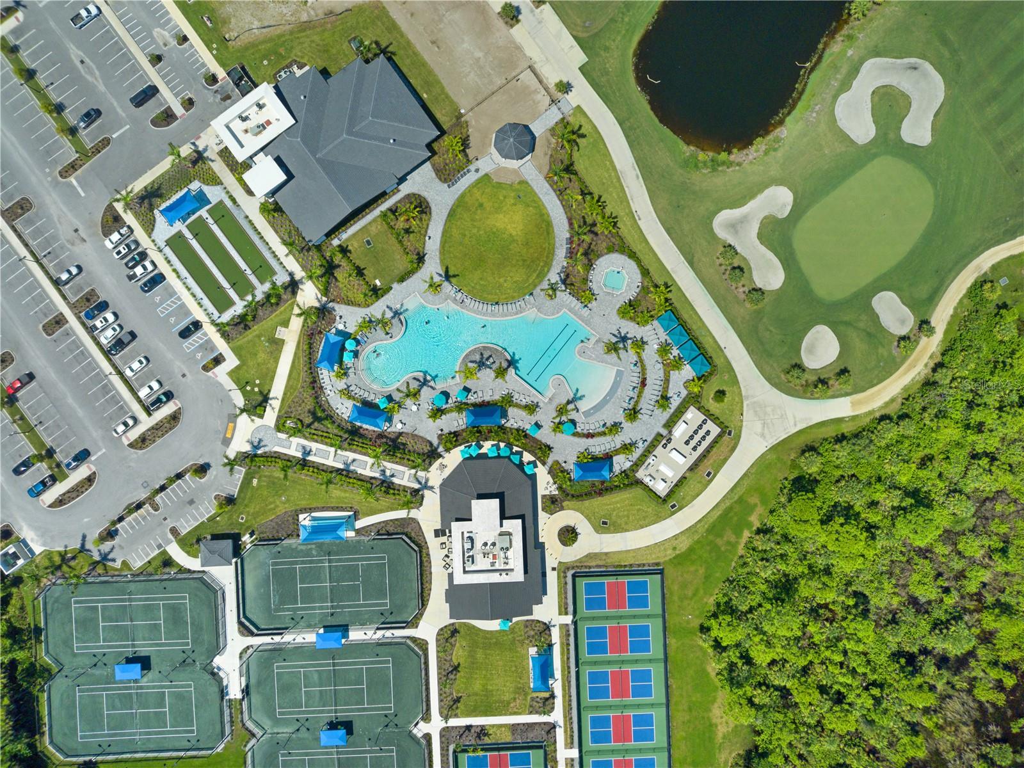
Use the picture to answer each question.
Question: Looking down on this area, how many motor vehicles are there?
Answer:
22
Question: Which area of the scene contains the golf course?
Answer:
top right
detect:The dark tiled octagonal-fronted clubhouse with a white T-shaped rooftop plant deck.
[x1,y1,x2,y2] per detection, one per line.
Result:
[439,458,542,620]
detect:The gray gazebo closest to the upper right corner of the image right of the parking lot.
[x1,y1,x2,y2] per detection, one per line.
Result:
[493,121,534,164]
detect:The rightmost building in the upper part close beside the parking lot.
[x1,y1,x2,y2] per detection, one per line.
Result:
[210,53,440,245]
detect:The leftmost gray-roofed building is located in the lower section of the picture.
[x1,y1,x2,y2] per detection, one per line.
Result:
[200,539,236,567]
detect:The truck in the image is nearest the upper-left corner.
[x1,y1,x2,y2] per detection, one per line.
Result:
[71,4,100,29]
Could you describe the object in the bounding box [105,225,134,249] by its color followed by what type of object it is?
white truck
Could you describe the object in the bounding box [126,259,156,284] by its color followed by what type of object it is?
white truck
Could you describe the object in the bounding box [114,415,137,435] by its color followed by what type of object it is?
white car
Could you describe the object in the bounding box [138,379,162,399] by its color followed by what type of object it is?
white car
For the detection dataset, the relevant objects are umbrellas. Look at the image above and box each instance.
[456,389,469,401]
[487,446,498,457]
[499,619,510,630]
[510,452,521,463]
[458,447,471,460]
[343,352,353,362]
[468,443,481,458]
[433,394,447,407]
[523,463,536,475]
[345,339,356,350]
[377,395,390,410]
[499,446,511,458]
[562,422,576,435]
[526,422,542,438]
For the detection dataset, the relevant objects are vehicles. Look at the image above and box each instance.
[108,330,137,354]
[28,473,58,497]
[129,84,158,109]
[100,323,124,343]
[13,454,35,474]
[124,249,148,269]
[6,371,35,395]
[125,356,149,376]
[77,108,102,128]
[141,272,165,293]
[85,300,109,320]
[145,389,175,413]
[71,4,100,29]
[114,415,137,435]
[138,379,162,399]
[105,225,134,249]
[126,259,156,284]
[57,265,81,285]
[89,310,118,335]
[178,320,202,340]
[115,239,138,260]
[65,449,90,469]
